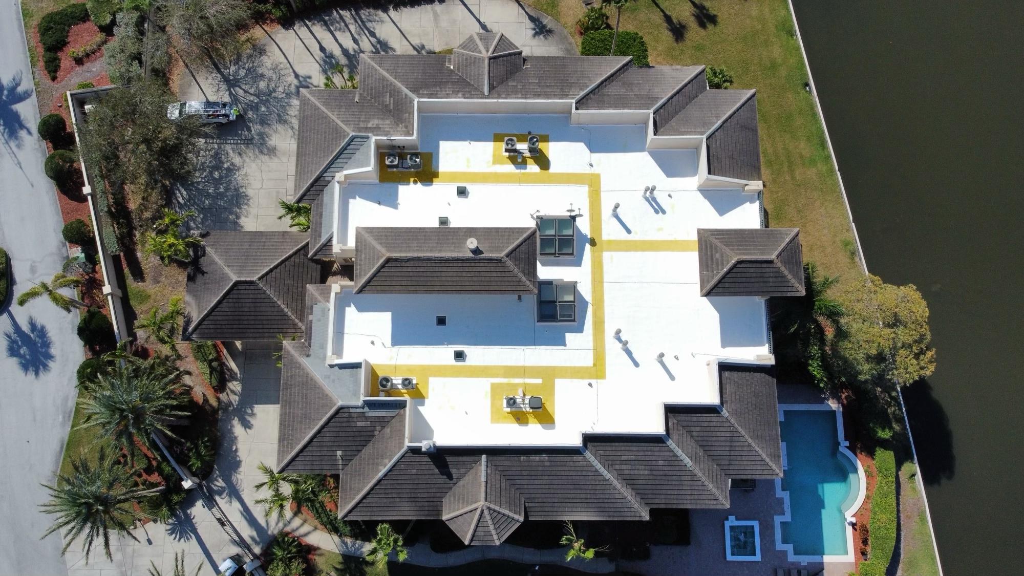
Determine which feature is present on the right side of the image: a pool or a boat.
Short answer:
pool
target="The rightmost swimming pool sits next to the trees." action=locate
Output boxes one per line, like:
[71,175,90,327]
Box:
[774,404,867,566]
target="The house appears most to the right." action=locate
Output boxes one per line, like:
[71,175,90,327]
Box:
[274,30,806,546]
